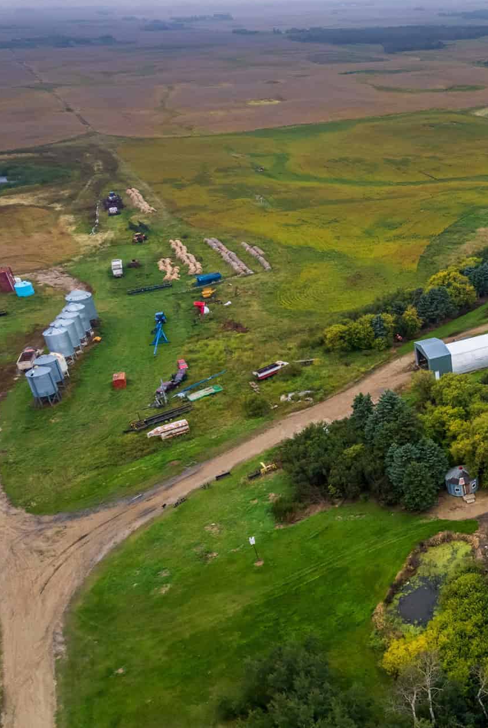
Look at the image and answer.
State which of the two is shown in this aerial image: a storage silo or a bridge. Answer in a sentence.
I can see a storage silo in this picture.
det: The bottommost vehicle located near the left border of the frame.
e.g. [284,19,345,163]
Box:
[10,351,41,370]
